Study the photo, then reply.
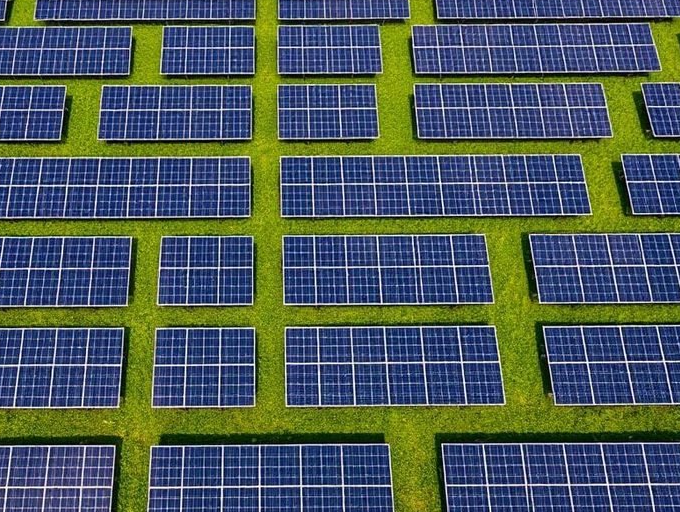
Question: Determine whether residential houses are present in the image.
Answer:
No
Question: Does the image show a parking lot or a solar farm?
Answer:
solar farm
